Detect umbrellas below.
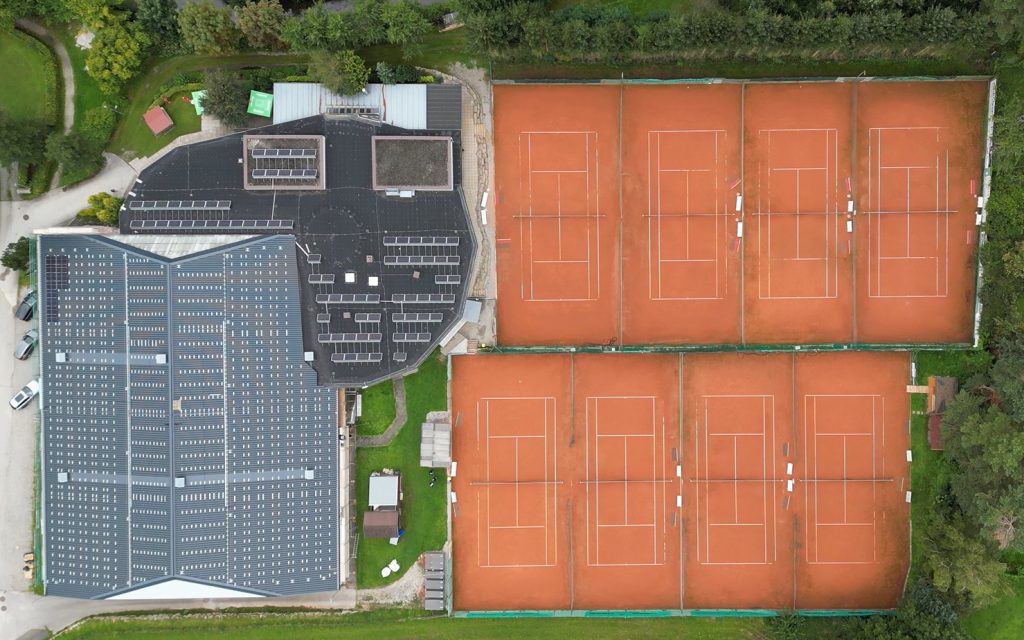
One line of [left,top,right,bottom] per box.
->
[249,92,274,117]
[189,91,214,116]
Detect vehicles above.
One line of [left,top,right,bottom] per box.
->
[13,288,39,320]
[14,329,39,361]
[9,378,40,410]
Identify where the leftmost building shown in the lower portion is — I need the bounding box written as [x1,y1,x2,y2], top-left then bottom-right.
[38,234,353,599]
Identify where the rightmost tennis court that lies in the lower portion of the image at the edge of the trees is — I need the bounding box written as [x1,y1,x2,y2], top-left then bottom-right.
[794,353,912,609]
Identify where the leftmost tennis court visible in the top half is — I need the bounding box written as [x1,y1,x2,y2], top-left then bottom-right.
[494,84,622,346]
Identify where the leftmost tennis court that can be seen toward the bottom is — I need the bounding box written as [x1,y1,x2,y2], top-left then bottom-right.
[453,355,572,610]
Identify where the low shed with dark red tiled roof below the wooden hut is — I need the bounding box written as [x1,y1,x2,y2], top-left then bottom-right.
[928,414,946,450]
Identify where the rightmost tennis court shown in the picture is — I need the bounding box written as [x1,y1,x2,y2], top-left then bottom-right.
[855,81,988,345]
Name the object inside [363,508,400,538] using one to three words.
shed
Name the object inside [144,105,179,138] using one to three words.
shed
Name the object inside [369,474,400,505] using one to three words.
building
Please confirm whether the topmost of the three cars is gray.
Yes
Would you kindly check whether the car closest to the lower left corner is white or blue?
white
